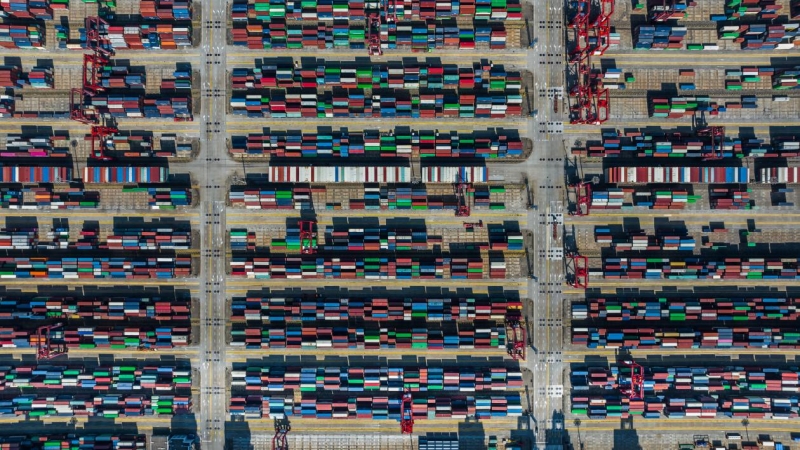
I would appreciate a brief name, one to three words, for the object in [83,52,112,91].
container crane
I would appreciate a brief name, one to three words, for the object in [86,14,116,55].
container crane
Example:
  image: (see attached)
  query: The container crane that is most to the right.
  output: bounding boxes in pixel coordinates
[693,124,723,160]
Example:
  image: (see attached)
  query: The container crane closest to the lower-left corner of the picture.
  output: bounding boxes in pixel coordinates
[37,323,70,361]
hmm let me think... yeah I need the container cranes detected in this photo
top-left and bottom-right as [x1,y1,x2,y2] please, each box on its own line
[502,323,522,361]
[91,124,120,160]
[299,220,319,255]
[693,124,723,160]
[566,183,590,216]
[588,14,611,55]
[453,183,471,216]
[83,52,112,91]
[565,255,588,289]
[585,86,609,124]
[566,0,590,23]
[383,0,398,23]
[367,14,384,55]
[648,0,676,23]
[617,359,644,398]
[37,323,70,361]
[567,14,591,55]
[86,14,116,55]
[271,428,291,450]
[567,52,591,91]
[568,86,591,124]
[399,392,415,433]
[70,86,100,124]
